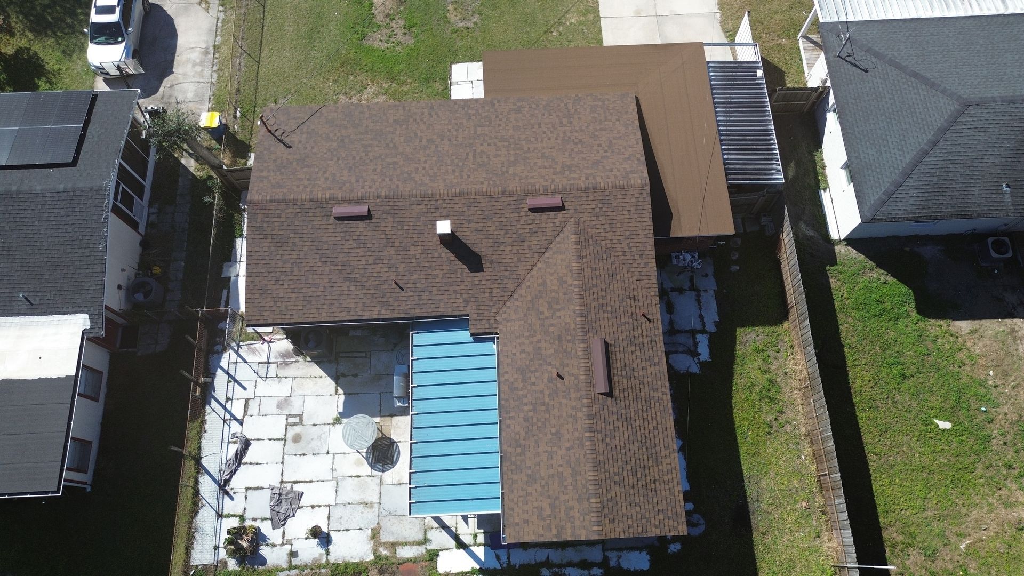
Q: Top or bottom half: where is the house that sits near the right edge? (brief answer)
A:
top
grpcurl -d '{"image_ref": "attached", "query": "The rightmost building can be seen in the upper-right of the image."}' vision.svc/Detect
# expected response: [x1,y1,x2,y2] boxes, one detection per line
[796,0,1024,240]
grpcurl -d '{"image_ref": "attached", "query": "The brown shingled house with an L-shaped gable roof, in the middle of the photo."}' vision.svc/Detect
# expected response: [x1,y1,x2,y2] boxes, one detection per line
[245,46,732,542]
